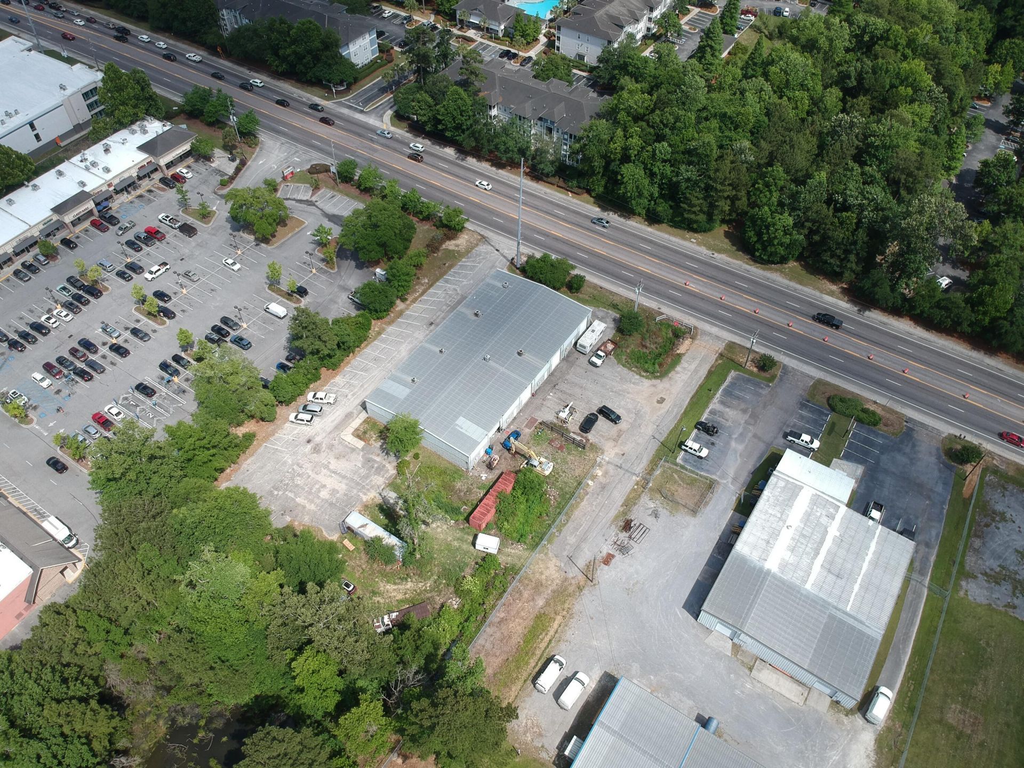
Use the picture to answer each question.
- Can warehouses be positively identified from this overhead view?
Yes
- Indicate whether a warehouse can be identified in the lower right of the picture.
Yes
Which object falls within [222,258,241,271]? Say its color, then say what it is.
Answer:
white vehicle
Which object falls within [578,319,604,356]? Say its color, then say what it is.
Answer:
white camper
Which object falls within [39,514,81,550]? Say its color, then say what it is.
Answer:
white van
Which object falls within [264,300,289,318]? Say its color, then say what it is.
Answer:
white vehicle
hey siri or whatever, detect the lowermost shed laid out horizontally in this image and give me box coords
[563,674,768,768]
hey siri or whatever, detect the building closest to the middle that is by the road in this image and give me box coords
[365,268,592,469]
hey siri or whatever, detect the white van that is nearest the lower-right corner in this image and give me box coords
[864,685,894,727]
